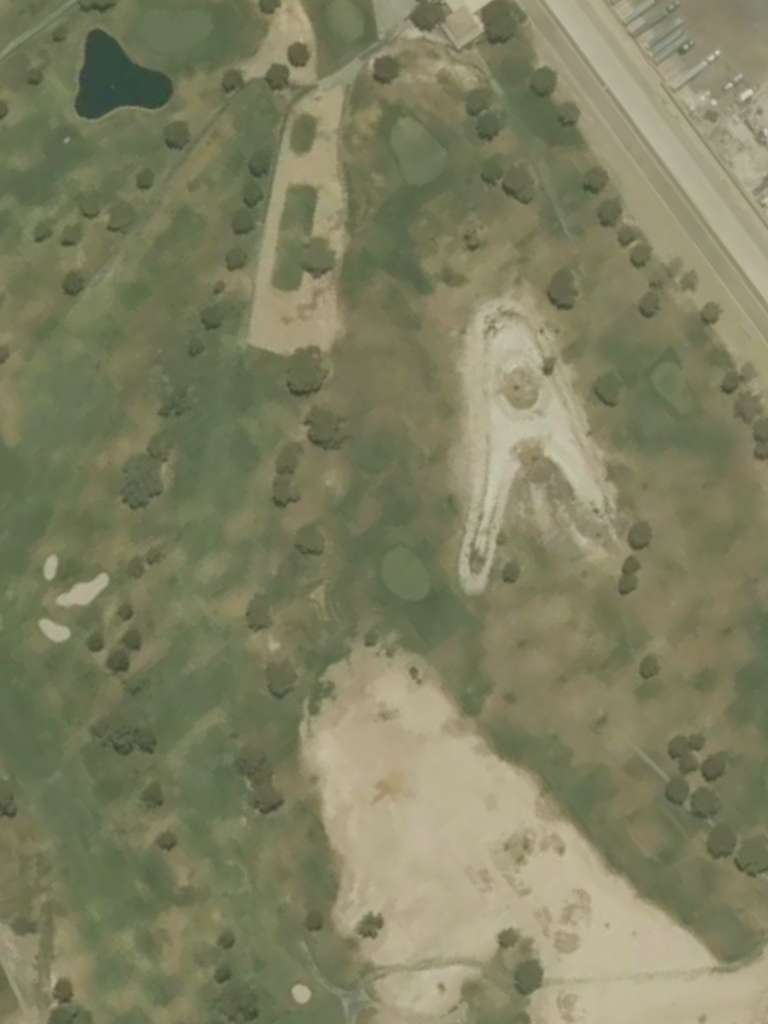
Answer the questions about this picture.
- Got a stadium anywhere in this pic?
No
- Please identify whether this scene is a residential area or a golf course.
golf course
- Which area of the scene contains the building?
top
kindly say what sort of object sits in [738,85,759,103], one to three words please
vehicle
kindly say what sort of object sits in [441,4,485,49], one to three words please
building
